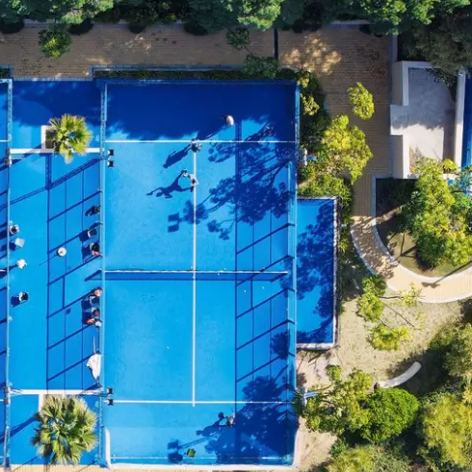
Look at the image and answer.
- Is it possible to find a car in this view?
No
